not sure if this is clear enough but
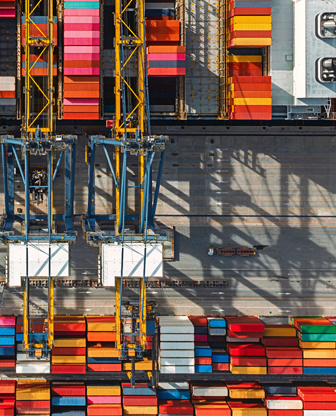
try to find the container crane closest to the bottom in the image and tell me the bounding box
[123,311,157,391]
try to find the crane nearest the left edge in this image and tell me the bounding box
[0,0,81,358]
